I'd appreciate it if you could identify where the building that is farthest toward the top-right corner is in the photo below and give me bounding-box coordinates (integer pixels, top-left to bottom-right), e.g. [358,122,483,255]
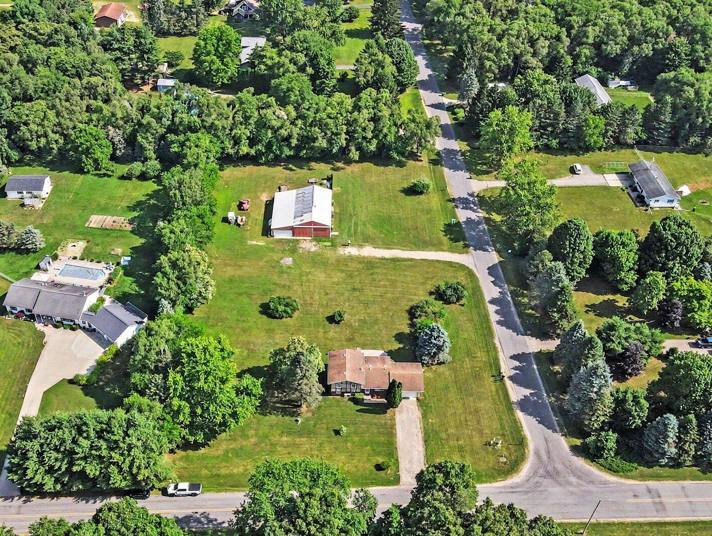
[574,73,619,114]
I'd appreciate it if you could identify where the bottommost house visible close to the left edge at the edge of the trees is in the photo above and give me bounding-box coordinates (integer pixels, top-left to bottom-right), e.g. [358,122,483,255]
[1,278,146,344]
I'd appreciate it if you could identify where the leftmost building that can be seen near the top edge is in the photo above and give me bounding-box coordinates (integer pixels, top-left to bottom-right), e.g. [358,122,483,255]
[98,2,131,27]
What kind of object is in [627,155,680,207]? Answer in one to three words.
house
